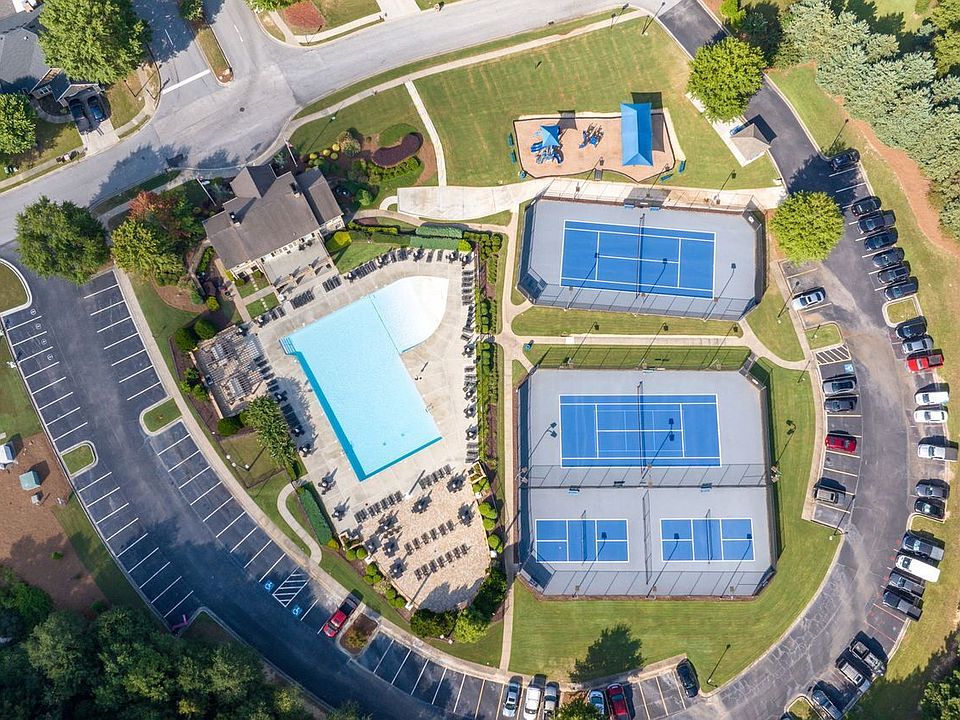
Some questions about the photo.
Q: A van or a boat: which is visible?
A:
van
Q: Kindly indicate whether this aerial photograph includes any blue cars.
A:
Yes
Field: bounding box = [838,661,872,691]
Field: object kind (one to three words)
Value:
car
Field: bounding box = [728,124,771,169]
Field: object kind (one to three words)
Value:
gazebo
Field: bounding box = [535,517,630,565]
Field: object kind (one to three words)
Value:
sports court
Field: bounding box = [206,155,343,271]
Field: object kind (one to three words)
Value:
building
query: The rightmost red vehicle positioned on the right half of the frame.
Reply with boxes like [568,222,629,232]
[904,353,947,369]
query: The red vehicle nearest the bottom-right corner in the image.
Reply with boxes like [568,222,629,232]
[823,436,857,451]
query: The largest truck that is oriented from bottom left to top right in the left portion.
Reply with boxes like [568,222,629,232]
[322,597,358,640]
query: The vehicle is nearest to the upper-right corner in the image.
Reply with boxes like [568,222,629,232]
[829,151,860,170]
